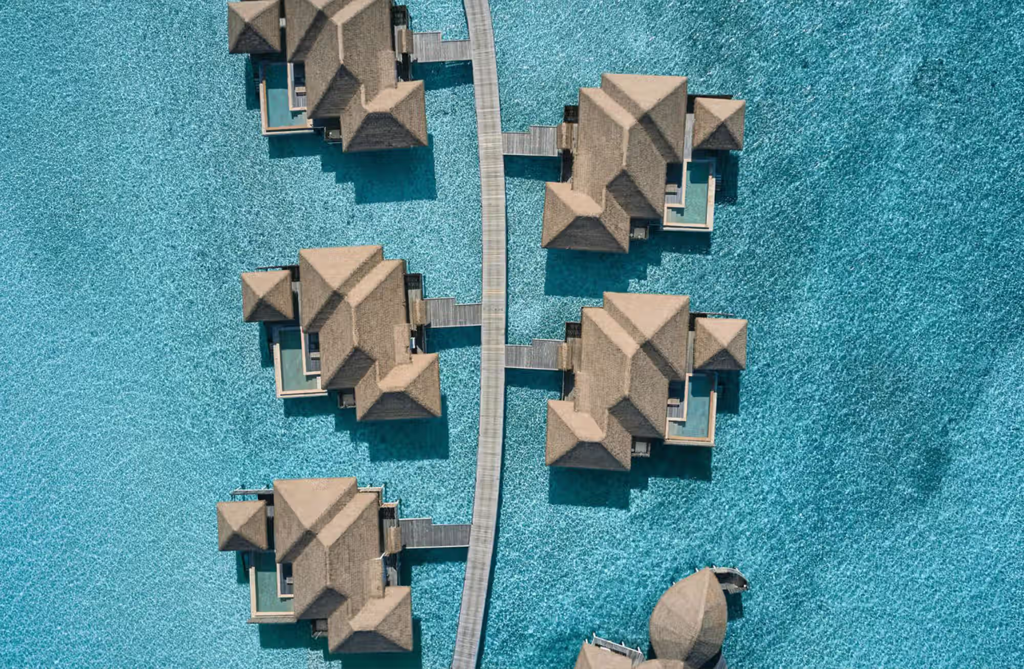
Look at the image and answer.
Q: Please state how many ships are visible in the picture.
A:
none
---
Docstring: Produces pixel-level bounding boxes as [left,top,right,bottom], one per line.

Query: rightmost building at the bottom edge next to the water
[649,564,750,669]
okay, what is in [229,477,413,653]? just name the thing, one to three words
house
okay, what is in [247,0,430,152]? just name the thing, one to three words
house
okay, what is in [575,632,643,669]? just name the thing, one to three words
building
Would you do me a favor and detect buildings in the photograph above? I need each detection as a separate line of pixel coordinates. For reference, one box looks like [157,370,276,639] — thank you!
[254,244,443,422]
[575,632,643,669]
[229,477,413,653]
[247,0,430,152]
[649,564,750,669]
[546,293,734,470]
[543,73,732,252]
